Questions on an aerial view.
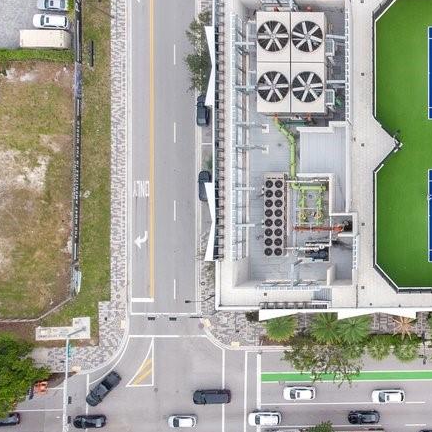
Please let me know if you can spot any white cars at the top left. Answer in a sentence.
Yes, a white car appears at the top left.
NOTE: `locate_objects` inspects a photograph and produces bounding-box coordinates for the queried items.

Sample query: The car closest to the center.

[196,171,212,202]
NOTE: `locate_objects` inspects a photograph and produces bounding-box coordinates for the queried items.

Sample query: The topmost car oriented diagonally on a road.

[87,371,124,405]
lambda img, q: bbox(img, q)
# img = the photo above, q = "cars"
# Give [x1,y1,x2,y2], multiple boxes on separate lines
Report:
[0,412,22,428]
[196,171,212,202]
[283,384,317,401]
[37,0,68,11]
[194,96,211,127]
[193,387,232,405]
[347,408,380,425]
[33,13,70,29]
[74,413,108,429]
[169,413,198,429]
[372,387,405,404]
[87,371,124,405]
[248,410,283,427]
